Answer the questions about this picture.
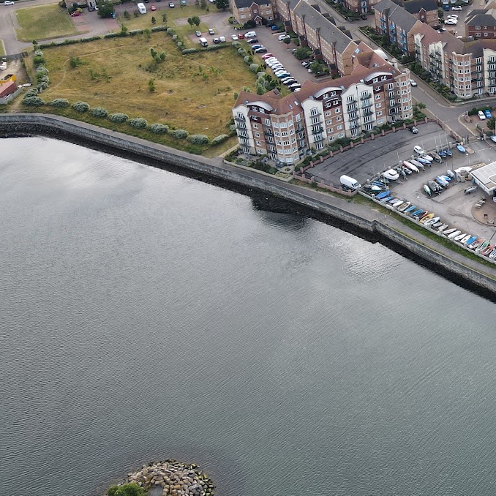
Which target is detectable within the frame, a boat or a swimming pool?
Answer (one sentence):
I can see a boat in this picture.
